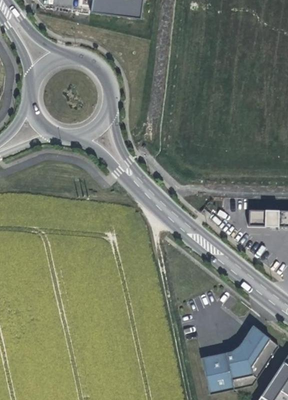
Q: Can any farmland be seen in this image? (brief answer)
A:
Yes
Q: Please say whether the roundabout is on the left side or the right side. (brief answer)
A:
left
